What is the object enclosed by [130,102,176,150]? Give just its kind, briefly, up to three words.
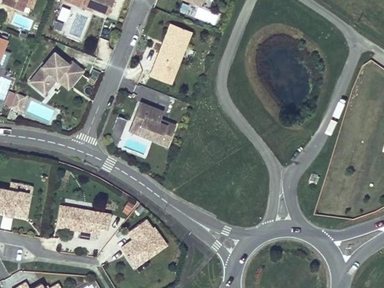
house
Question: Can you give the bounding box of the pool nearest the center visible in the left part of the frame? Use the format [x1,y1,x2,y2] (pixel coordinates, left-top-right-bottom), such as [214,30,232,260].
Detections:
[118,132,152,158]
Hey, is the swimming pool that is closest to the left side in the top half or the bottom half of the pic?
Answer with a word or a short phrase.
top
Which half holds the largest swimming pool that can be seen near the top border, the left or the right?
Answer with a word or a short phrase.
left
